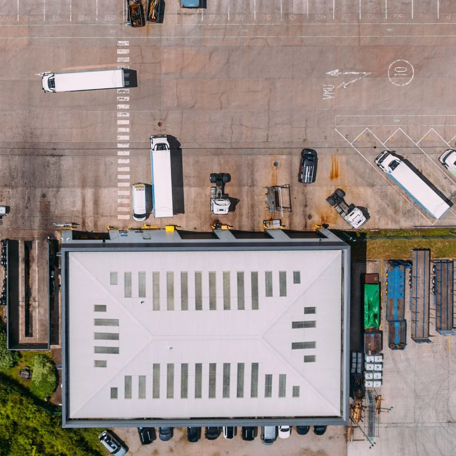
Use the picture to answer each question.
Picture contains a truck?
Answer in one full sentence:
Yes, a truck is visible in the scene.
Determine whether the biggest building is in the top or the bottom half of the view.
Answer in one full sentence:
Seen from above, the biggest building lies in the bottom half of the view.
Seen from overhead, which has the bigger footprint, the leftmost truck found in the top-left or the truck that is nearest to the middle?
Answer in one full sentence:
The leftmost truck found in the top-left takes up more space than the truck that is nearest to the middle does.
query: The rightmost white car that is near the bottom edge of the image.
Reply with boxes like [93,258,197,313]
[277,427,293,439]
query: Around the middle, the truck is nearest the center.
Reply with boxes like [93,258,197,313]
[207,171,231,215]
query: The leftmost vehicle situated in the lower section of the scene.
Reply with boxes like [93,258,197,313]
[99,428,127,456]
